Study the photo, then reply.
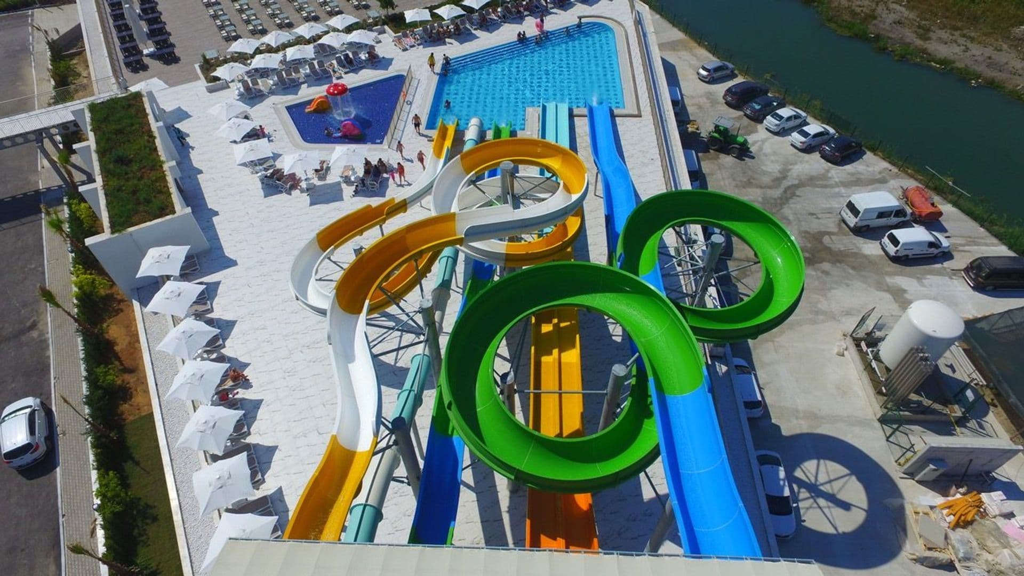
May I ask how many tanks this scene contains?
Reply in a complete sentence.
The count comes to 1 tank.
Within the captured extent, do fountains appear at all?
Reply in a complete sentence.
Yes, the frame does contain a fountain.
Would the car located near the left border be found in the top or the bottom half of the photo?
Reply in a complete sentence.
You can find the car located near the left border in the bottom half.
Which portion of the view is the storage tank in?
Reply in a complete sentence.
The storage tank appears toward the right of the photo.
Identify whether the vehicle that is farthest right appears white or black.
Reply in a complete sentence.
The vehicle that is farthest right looks black in the image.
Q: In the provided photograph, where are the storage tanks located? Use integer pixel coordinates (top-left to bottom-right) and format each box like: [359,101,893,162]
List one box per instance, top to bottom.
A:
[855,307,961,380]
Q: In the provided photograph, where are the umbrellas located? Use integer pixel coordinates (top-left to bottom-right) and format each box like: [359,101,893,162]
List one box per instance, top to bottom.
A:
[122,0,156,51]
[460,0,493,11]
[434,6,467,22]
[401,8,434,26]
[326,16,360,37]
[295,24,331,45]
[347,31,380,61]
[260,33,295,55]
[228,40,265,61]
[283,46,319,76]
[253,54,286,86]
[212,65,250,97]
[130,79,169,100]
[215,121,260,148]
[234,142,278,179]
[325,145,369,183]
[281,152,325,191]
[139,245,195,288]
[151,280,205,326]
[165,322,223,368]
[167,356,231,415]
[179,401,250,471]
[185,449,270,525]
[199,503,274,576]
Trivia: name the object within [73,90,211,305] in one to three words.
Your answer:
building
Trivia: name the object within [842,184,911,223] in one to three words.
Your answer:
van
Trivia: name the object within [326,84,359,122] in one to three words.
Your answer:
fountain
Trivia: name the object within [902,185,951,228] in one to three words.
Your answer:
trailer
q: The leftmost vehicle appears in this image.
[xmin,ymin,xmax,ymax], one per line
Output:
[1,401,48,465]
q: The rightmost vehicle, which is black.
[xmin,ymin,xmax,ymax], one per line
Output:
[972,247,1024,287]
